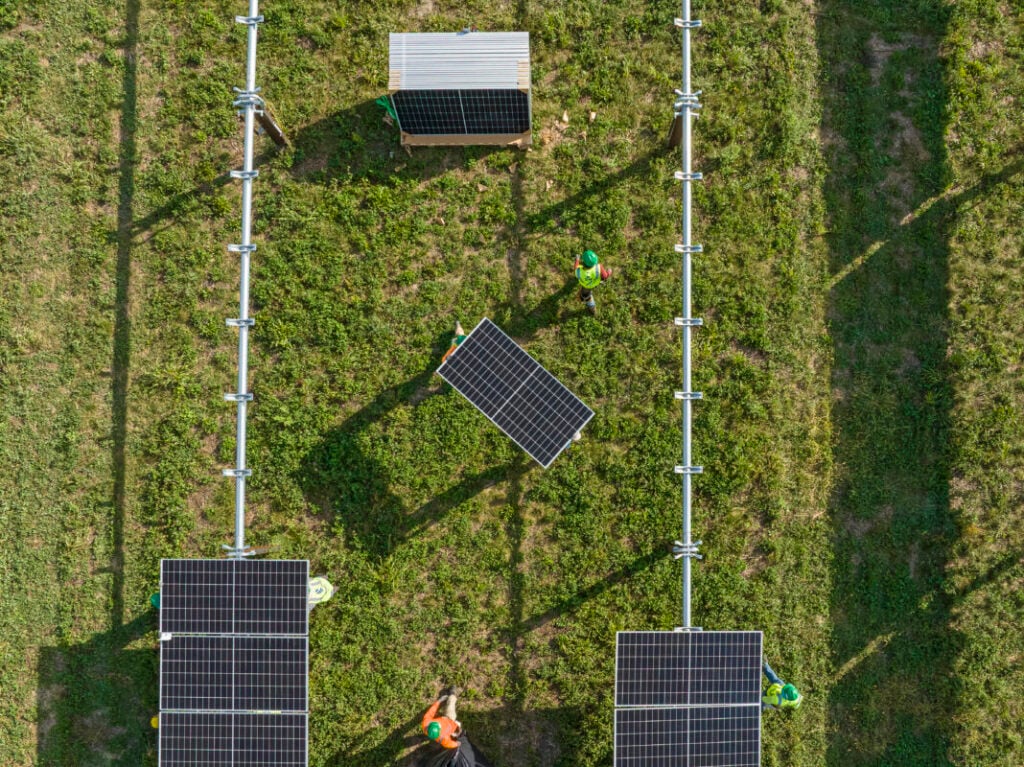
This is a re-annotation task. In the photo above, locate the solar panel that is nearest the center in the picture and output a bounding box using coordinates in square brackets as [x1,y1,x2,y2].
[436,317,593,469]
